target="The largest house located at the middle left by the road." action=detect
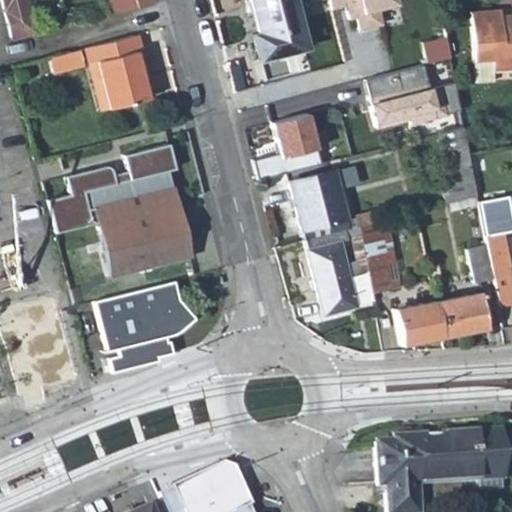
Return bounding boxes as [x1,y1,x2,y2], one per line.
[48,144,194,278]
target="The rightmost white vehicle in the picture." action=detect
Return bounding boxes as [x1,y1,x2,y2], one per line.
[337,90,357,102]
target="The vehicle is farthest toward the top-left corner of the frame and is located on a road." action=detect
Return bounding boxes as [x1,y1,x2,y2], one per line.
[5,42,27,56]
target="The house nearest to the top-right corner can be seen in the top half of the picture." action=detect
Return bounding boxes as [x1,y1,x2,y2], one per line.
[466,8,512,84]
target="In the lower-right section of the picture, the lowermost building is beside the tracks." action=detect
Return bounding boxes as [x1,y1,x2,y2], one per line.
[368,423,512,512]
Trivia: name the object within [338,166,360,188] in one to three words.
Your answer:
shed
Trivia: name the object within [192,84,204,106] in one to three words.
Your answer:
vehicle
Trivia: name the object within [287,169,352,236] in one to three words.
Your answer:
house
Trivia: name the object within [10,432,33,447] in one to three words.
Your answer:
car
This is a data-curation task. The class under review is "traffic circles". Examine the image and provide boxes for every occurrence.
[244,376,304,422]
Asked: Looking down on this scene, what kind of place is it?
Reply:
residential area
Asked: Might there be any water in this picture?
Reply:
No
